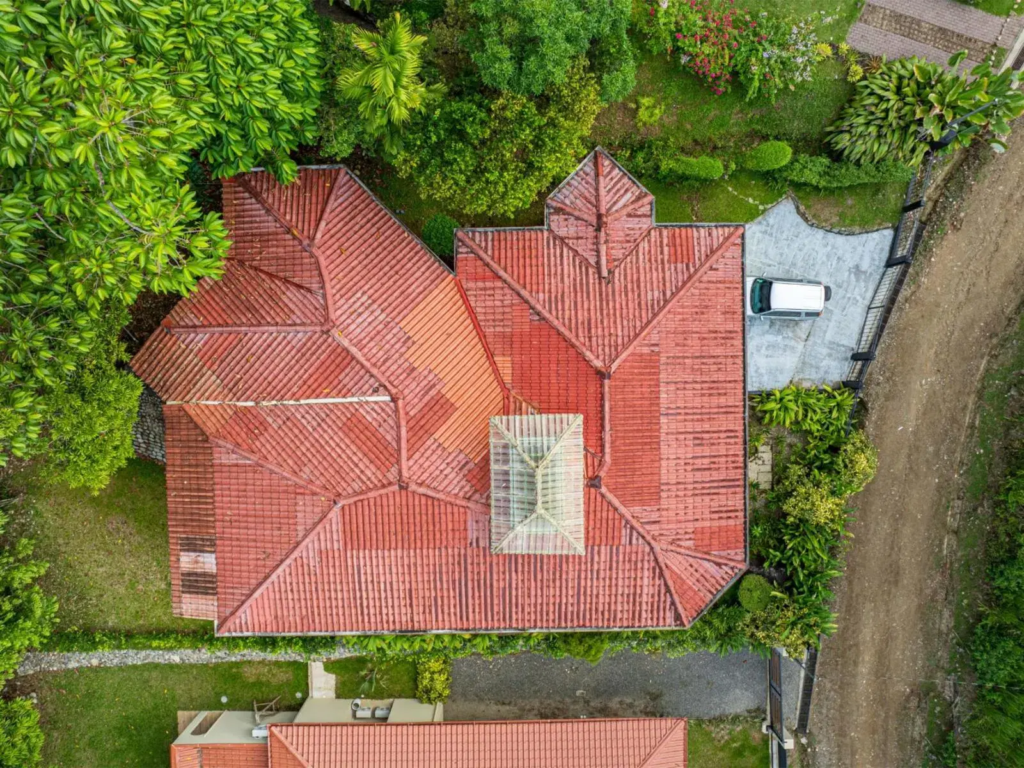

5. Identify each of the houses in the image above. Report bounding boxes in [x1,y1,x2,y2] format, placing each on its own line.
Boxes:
[167,699,690,768]
[131,146,749,636]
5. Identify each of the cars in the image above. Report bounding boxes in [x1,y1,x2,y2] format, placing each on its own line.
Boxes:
[747,276,831,326]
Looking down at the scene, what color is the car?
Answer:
white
